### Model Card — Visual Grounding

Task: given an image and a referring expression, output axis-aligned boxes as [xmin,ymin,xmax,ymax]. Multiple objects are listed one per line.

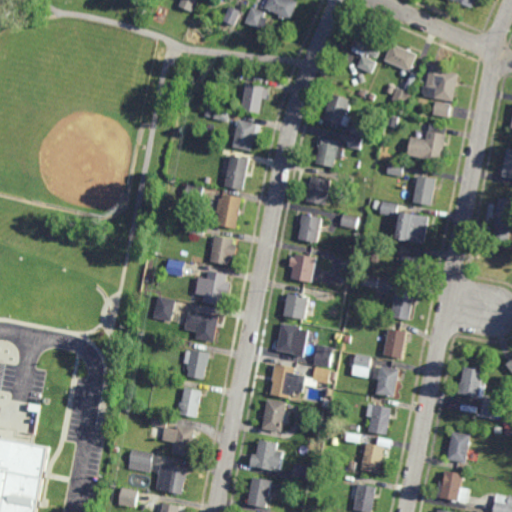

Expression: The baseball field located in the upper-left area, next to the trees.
[0,22,153,213]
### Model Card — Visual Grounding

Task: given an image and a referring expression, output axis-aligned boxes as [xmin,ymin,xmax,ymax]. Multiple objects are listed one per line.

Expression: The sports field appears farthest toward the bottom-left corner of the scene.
[0,247,102,329]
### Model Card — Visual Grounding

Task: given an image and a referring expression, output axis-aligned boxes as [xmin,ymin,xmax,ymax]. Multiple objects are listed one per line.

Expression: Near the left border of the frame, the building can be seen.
[0,440,50,512]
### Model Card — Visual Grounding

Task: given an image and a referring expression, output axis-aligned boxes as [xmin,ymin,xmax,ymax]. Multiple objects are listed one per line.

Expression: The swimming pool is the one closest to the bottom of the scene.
[129,474,151,488]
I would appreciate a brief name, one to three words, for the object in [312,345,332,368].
building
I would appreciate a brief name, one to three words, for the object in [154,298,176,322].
building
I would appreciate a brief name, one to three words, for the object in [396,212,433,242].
house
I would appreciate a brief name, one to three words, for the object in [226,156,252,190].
house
